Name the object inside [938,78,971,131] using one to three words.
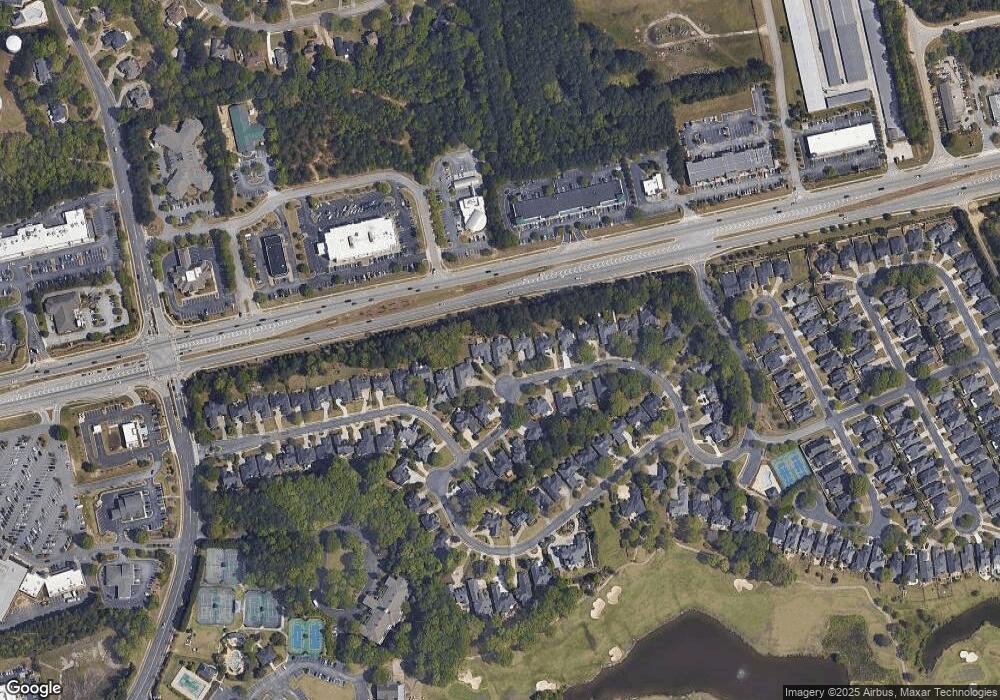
building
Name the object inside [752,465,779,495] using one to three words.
swimming pool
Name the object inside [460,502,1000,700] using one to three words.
golf course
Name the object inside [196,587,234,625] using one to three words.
tennis court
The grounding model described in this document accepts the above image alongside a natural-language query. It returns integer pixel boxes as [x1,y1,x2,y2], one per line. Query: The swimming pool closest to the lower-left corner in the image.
[171,667,211,700]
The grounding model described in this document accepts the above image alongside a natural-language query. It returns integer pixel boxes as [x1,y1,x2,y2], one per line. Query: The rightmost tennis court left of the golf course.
[288,618,325,655]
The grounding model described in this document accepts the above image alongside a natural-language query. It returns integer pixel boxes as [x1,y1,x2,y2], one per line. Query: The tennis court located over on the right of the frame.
[771,449,812,488]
